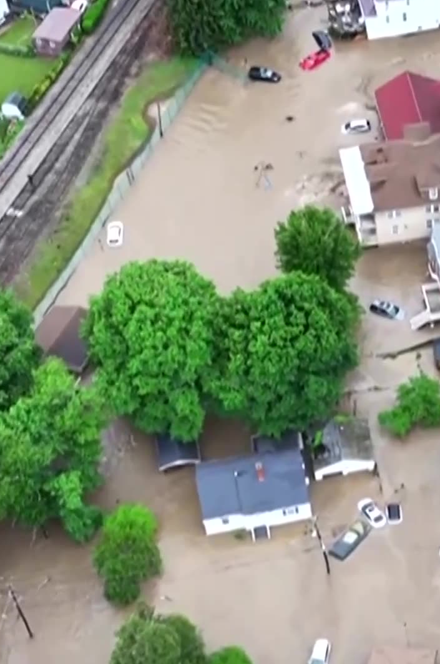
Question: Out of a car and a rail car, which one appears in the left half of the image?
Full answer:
Looking in the left half of the image, you will find a car.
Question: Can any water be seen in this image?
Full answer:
Yes, the picture does contain water.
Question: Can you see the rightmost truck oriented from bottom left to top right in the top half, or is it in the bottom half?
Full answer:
The rightmost truck oriented from bottom left to top right is in the bottom half of the image.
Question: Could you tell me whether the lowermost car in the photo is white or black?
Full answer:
The lowermost car looks white in the image.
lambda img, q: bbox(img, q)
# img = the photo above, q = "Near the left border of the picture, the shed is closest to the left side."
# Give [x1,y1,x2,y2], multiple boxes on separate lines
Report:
[1,98,30,123]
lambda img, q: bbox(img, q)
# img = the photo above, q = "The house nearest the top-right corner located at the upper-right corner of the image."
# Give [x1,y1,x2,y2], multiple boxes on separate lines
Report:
[358,0,440,39]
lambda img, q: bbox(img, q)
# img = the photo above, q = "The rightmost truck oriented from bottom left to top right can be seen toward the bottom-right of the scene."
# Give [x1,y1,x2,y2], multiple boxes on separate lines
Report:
[326,521,373,566]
